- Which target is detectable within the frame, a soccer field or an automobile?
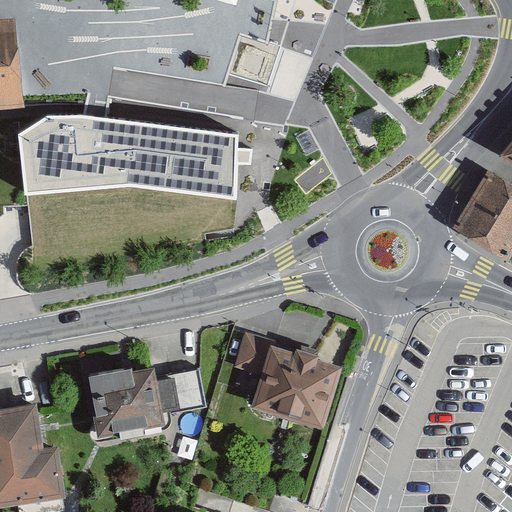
automobile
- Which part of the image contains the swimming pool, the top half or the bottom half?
bottom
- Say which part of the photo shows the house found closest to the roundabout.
right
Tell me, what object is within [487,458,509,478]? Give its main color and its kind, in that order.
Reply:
white car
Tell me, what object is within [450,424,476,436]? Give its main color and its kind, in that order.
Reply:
white vehicle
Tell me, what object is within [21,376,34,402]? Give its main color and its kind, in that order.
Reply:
white vehicle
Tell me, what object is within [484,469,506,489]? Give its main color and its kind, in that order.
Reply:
white car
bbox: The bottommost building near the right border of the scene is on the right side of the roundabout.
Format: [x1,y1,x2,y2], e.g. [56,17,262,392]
[453,170,512,264]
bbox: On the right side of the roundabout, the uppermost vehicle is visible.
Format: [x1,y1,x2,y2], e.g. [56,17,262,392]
[445,239,470,261]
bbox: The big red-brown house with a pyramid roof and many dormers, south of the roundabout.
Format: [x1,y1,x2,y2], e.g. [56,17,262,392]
[236,333,342,429]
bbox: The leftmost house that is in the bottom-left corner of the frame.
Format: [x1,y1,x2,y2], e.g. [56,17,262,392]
[0,404,66,508]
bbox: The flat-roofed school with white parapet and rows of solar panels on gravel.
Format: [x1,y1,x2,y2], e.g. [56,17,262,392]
[17,115,252,200]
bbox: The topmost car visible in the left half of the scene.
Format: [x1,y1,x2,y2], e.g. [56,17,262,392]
[58,311,82,324]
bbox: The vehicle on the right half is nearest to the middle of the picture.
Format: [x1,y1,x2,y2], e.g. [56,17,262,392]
[306,230,330,248]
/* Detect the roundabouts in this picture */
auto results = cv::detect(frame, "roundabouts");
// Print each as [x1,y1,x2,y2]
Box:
[356,218,420,282]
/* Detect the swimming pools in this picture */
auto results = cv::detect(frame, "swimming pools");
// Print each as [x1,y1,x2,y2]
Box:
[179,412,202,436]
